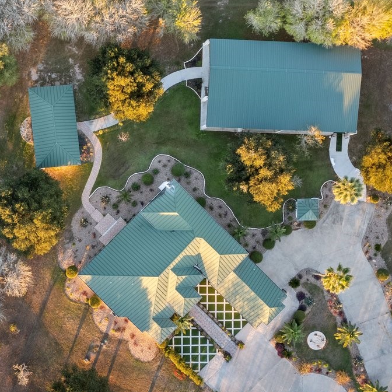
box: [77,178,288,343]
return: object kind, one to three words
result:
house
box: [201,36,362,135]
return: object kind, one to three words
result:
barn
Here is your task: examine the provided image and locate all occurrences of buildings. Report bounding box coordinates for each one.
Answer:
[77,178,288,343]
[201,36,362,135]
[293,198,318,220]
[28,84,82,168]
